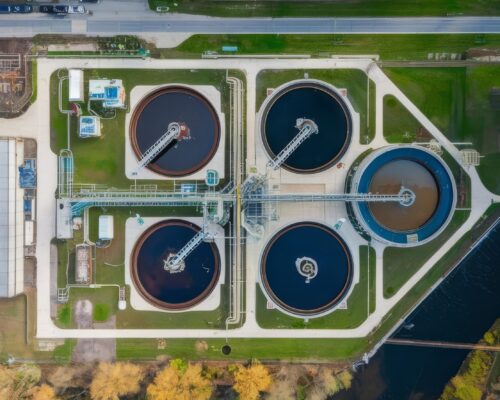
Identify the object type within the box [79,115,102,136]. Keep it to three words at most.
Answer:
building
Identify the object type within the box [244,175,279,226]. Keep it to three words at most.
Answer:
building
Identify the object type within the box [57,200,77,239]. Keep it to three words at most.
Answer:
house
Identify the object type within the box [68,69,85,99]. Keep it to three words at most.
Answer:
shed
